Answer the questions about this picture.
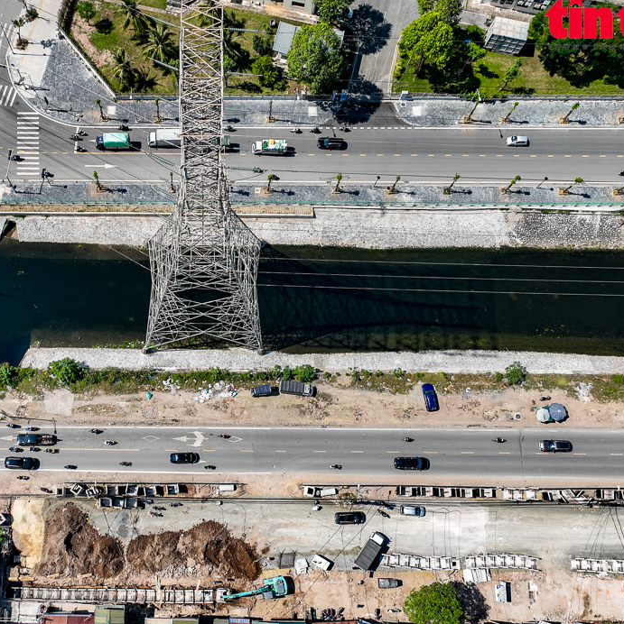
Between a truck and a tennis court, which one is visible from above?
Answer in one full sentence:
Looking from above, you can make out a truck.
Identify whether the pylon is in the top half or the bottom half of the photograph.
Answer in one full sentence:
The top half of the photo is where the pylon is.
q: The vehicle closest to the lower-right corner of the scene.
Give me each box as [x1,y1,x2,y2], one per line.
[538,439,572,453]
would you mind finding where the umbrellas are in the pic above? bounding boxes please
[533,408,548,422]
[547,403,566,422]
